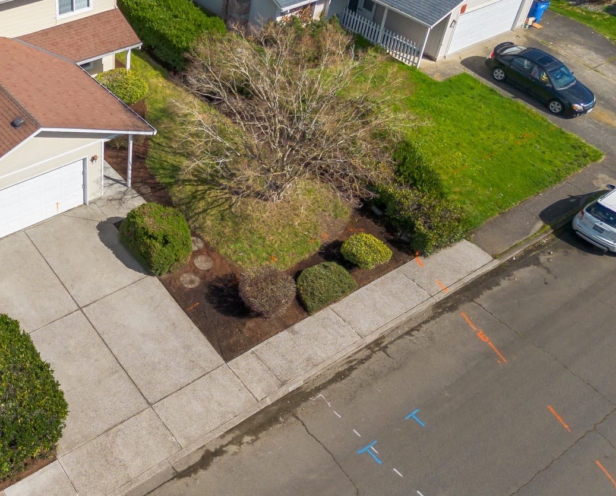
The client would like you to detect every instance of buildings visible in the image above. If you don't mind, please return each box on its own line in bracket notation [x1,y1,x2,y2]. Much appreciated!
[197,0,535,74]
[0,0,159,239]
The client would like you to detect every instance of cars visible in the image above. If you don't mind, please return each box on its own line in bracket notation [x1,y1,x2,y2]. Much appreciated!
[491,46,600,116]
[570,186,616,262]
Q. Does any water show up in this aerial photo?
No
